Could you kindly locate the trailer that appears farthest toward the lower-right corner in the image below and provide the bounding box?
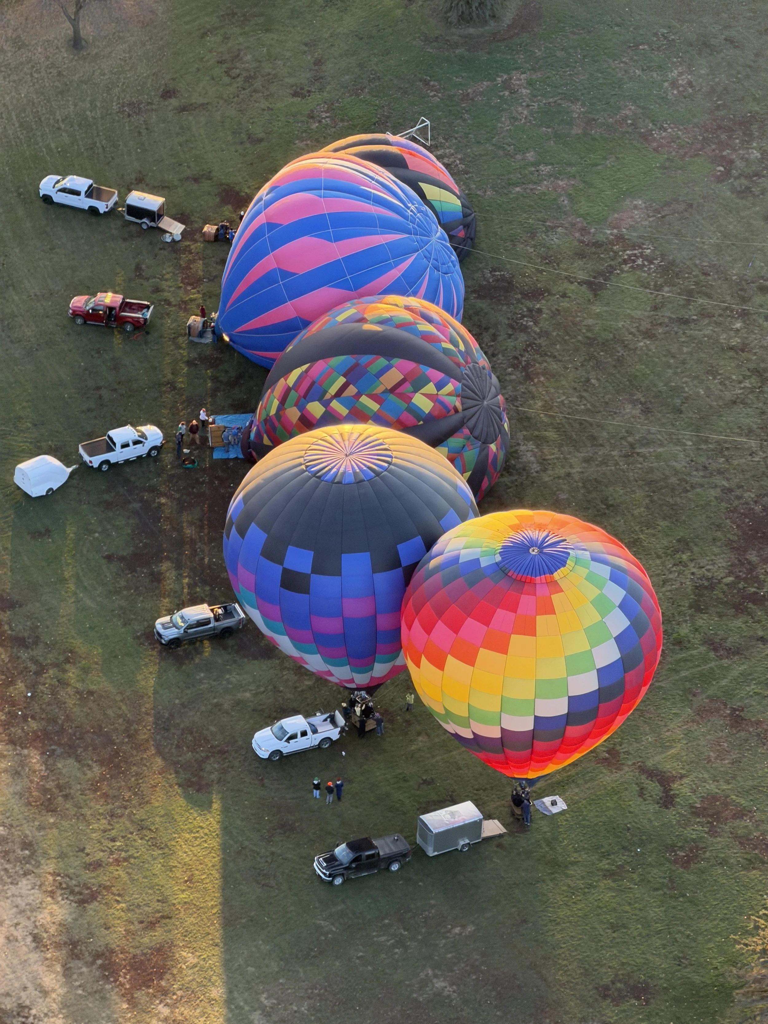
[412,799,509,855]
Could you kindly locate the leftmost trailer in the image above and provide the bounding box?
[15,462,69,499]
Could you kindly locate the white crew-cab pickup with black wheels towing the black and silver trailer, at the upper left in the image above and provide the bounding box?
[38,177,119,217]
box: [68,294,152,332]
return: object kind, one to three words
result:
truck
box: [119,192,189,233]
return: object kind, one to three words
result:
trailer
